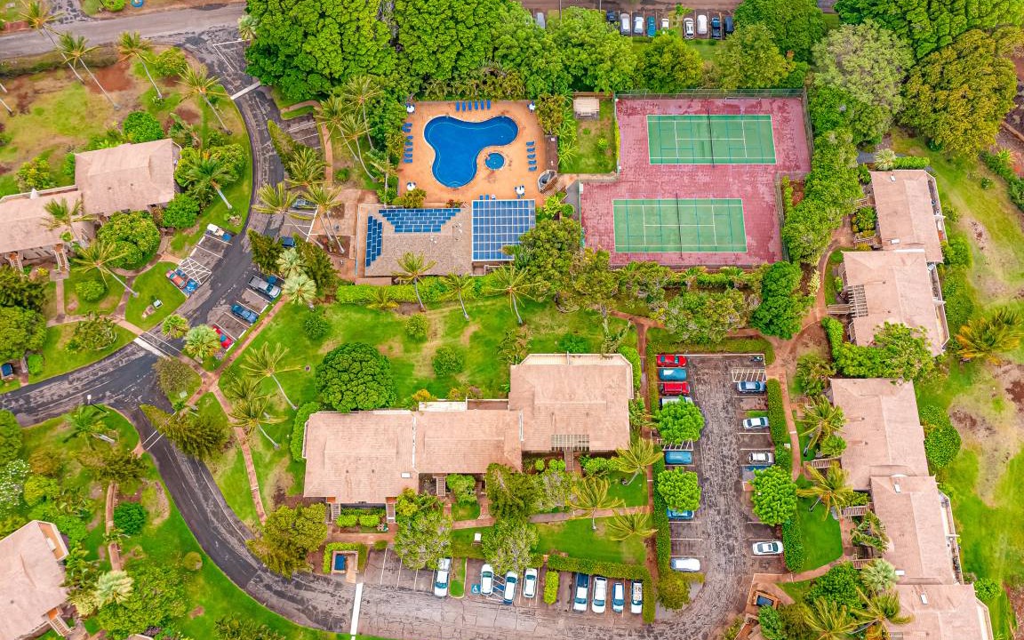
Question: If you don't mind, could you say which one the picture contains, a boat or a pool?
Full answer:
Of the two, only a pool appears.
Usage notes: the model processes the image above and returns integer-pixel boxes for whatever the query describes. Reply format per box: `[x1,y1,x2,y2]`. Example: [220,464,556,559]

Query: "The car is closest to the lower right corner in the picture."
[752,540,783,555]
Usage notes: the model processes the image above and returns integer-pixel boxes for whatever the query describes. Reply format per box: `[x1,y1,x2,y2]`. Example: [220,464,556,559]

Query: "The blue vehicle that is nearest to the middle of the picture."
[659,367,687,381]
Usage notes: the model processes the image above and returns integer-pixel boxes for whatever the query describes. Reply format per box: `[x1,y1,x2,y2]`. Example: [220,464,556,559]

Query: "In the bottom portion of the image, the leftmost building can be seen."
[0,520,82,640]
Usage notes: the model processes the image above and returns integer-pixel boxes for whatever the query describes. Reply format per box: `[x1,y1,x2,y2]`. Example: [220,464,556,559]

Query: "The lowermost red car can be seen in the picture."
[661,383,689,395]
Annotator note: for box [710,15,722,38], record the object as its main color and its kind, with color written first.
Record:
blue vehicle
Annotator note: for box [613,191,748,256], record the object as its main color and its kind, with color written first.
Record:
green tennis court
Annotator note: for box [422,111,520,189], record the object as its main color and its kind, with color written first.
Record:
blue swimming pool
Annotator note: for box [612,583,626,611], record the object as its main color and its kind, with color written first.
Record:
white car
